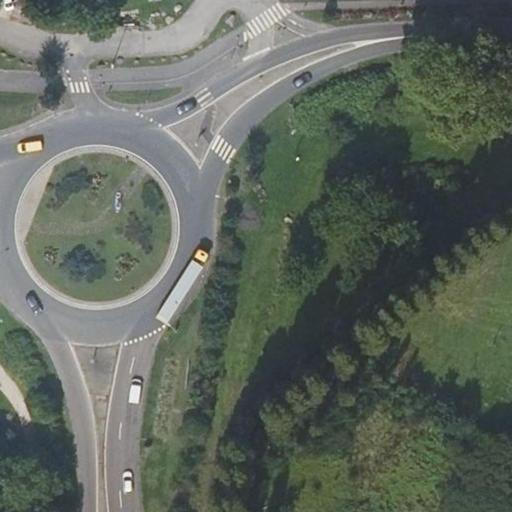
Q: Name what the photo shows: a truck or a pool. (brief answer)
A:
truck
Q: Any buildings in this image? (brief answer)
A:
No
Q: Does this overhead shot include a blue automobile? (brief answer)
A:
No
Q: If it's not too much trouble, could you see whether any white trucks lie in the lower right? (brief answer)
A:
No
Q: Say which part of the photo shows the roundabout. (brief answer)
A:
left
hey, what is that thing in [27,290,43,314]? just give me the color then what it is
gray car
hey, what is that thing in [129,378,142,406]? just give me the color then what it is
white vehicle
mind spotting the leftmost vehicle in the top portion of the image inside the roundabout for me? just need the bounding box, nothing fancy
[17,140,43,154]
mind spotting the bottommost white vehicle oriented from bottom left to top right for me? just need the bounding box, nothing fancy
[156,250,211,326]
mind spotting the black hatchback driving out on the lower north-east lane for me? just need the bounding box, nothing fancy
[292,72,312,89]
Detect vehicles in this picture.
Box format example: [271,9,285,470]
[129,378,142,406]
[17,140,43,154]
[176,97,198,114]
[27,290,43,314]
[122,470,134,494]
[292,72,312,89]
[4,0,14,12]
[156,250,211,326]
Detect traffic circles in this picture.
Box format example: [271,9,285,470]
[0,112,214,344]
